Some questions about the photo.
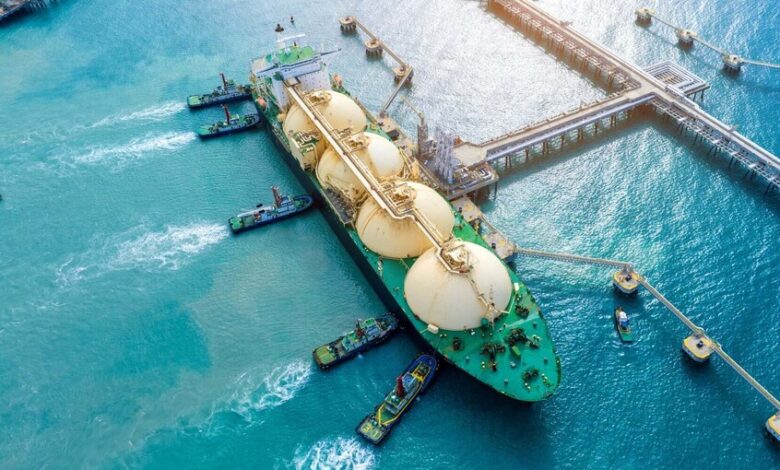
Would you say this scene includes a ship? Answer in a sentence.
Yes, I can see a ship in this picture.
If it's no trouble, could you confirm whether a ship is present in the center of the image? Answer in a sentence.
Yes, looking in the center of the image, one can make out a ship.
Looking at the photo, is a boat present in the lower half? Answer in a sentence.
Yes, a boat can be seen in the lower half.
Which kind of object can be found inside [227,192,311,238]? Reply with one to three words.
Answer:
boat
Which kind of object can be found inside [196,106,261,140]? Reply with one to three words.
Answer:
boat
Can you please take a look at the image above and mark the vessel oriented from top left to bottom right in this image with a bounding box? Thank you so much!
[246,30,560,395]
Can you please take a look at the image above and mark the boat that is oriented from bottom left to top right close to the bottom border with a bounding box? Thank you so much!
[353,356,440,447]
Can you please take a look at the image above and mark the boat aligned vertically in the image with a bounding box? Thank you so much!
[617,309,631,343]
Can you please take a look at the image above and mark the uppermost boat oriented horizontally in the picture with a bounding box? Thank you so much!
[186,76,251,110]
